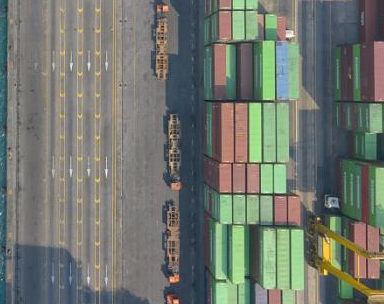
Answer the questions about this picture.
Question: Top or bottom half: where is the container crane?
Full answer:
The container crane is in the bottom half of the image.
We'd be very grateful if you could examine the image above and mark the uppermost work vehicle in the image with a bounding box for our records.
[155,3,170,26]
